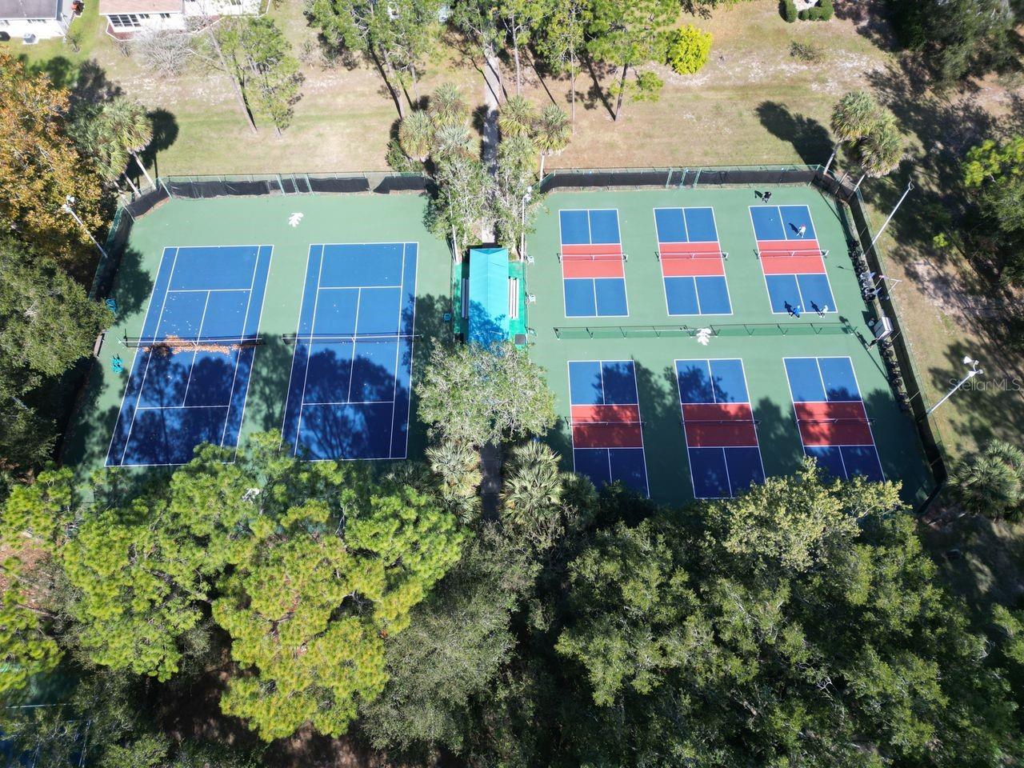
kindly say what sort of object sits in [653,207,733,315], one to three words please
sports court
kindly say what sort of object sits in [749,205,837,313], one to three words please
sports court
